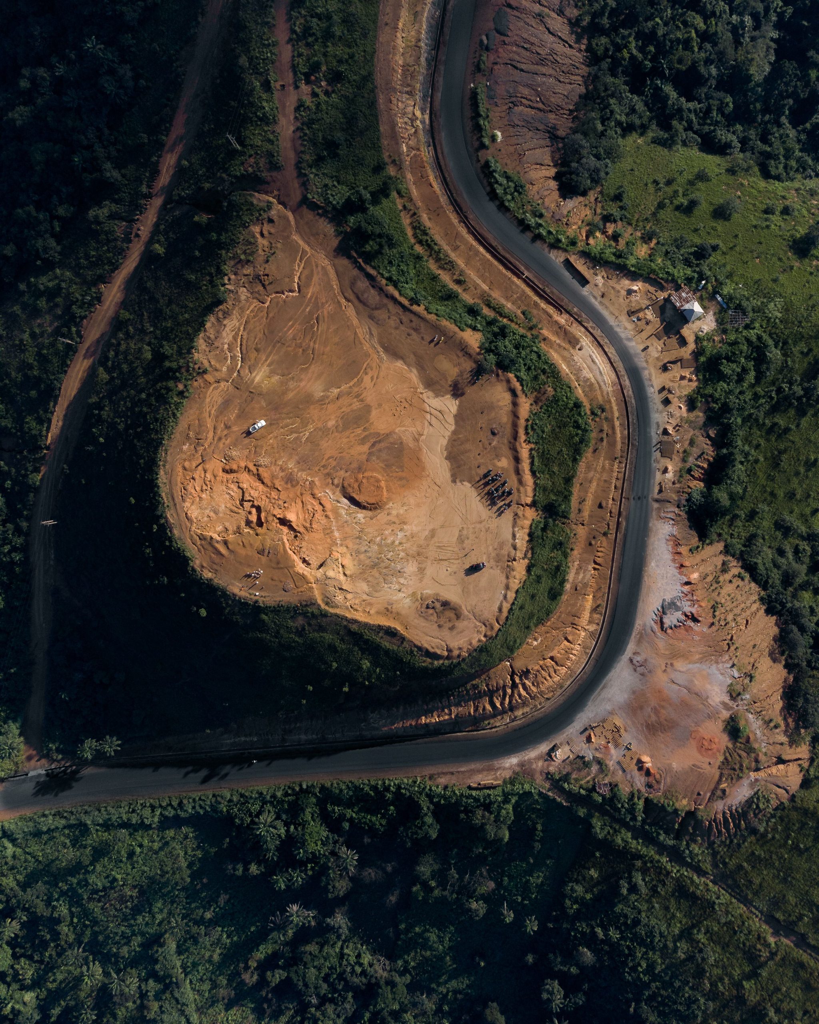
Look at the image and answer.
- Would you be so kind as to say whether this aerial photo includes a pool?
No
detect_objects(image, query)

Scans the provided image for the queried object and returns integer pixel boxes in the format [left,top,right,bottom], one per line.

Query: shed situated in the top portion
[668,286,707,322]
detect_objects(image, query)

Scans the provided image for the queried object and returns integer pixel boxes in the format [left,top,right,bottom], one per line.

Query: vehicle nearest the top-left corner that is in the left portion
[247,419,267,435]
